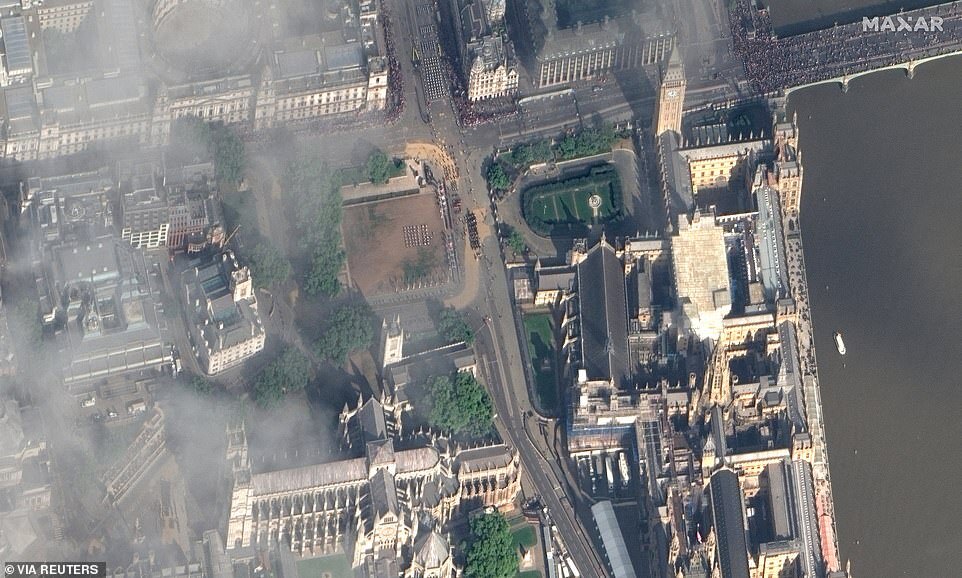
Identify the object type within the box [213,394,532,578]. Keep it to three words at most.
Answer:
church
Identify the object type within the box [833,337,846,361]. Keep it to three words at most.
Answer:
boat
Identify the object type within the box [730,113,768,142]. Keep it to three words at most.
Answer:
building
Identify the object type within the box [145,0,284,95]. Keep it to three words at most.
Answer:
building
